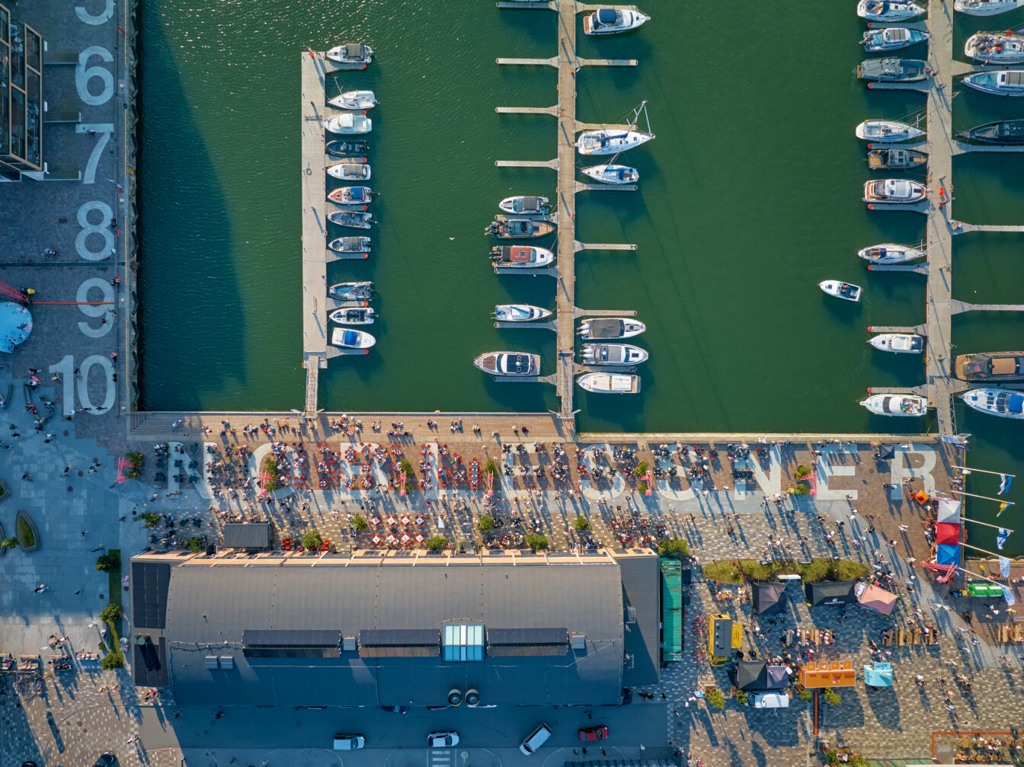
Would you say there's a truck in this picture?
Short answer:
Yes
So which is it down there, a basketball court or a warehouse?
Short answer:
warehouse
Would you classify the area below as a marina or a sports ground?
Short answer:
marina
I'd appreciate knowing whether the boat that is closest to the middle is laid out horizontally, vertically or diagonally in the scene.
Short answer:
horizontally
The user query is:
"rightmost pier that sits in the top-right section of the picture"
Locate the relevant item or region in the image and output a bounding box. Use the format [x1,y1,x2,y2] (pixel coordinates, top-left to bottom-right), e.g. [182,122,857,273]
[866,0,1024,404]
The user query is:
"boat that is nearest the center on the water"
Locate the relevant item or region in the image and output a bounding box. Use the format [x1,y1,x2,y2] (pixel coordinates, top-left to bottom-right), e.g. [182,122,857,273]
[474,351,541,376]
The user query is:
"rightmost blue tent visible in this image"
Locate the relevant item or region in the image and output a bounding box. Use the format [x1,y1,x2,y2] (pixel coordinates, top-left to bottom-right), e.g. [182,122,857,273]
[931,542,959,565]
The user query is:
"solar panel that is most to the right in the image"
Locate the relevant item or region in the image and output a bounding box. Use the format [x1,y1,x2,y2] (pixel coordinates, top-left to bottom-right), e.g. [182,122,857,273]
[488,629,568,645]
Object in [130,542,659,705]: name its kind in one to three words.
warehouse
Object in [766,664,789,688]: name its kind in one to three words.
tent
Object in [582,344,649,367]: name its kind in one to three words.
boat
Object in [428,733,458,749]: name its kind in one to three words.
car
